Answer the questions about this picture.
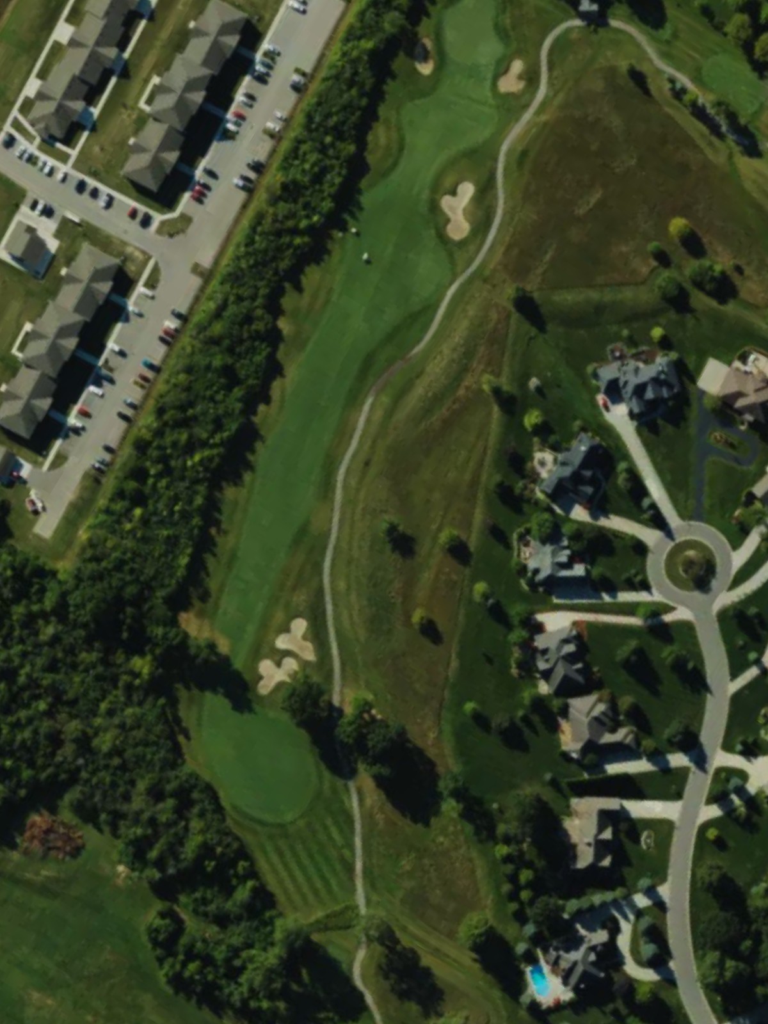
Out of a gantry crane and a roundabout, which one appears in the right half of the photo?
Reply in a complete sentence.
The feature located in the right half of the photo is a roundabout.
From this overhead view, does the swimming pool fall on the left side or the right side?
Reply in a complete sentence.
The swimming pool appears in the right half of the scene.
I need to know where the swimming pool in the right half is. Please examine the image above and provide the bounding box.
[526,948,573,1009]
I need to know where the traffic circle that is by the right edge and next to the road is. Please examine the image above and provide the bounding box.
[648,521,733,607]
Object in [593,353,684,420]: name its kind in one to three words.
house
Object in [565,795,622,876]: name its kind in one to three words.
house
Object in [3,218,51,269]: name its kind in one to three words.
building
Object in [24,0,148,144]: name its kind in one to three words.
building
